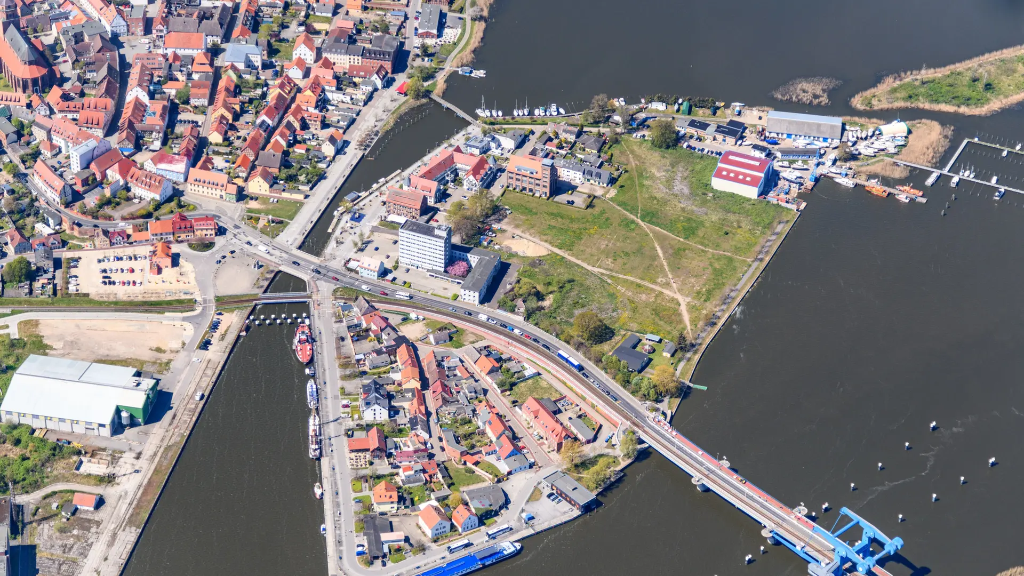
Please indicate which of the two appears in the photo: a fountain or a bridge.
bridge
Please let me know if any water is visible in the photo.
Yes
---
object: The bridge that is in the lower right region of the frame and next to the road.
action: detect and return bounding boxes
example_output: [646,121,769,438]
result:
[631,419,906,576]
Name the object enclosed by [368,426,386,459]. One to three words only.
house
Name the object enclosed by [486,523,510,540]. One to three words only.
vehicle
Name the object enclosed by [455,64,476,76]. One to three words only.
boat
